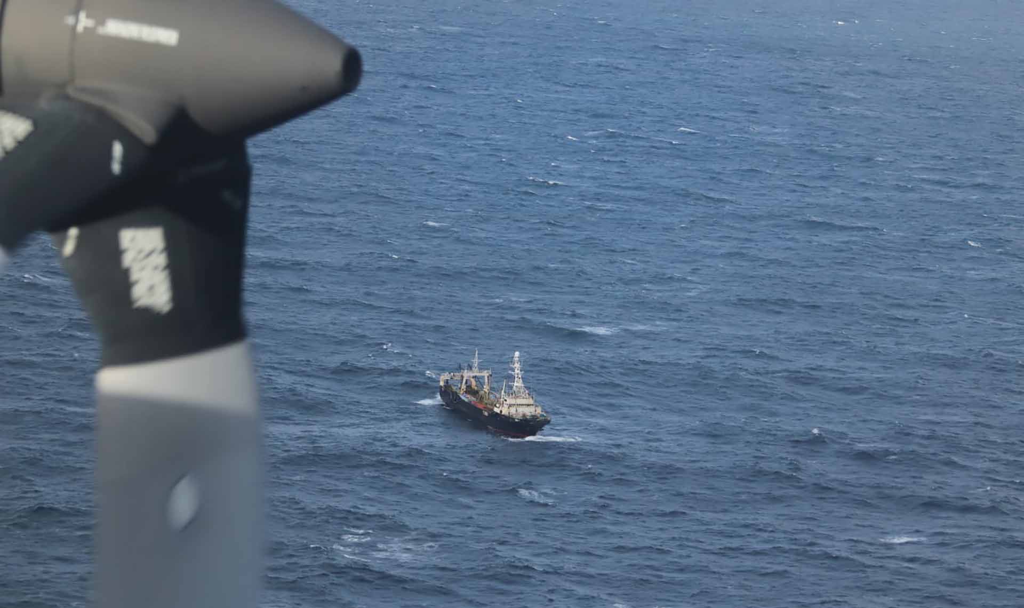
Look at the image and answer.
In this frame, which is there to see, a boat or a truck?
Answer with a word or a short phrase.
boat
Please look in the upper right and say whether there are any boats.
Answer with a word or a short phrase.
No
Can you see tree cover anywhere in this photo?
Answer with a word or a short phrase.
No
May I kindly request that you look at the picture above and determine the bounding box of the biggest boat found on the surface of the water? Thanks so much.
[438,351,554,438]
